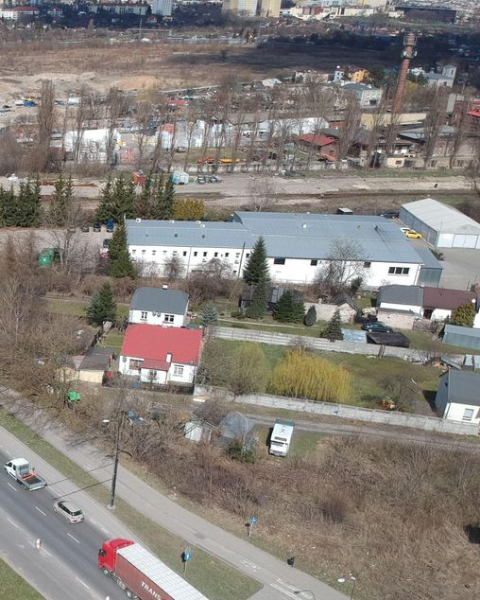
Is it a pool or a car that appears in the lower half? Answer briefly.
car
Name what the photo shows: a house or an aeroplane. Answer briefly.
house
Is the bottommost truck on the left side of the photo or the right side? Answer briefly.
left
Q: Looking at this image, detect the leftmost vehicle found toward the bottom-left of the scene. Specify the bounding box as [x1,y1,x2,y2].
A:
[2,453,53,492]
